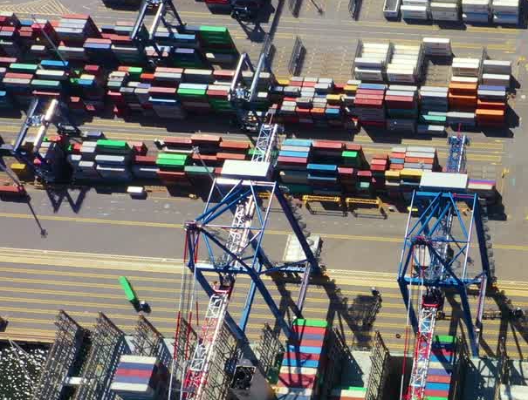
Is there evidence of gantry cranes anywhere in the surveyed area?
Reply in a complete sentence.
Yes, there's a gantry crane down there.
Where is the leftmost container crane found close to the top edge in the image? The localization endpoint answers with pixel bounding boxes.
[130,0,184,82]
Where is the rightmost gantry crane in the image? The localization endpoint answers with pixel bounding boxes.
[396,133,496,400]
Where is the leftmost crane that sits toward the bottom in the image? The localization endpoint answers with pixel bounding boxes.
[165,122,322,400]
